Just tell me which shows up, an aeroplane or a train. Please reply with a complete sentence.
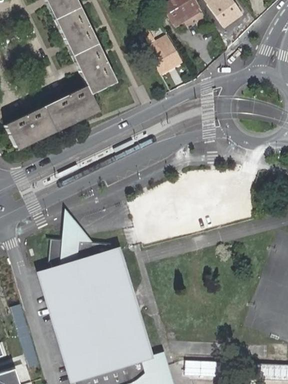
Visible in the photo is a train.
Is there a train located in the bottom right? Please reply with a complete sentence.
No, no train can be made out in the bottom right.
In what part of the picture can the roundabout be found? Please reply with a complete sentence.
The roundabout sits in the top right section of the image.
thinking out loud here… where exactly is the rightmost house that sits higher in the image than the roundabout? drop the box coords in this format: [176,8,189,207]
[204,0,242,28]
